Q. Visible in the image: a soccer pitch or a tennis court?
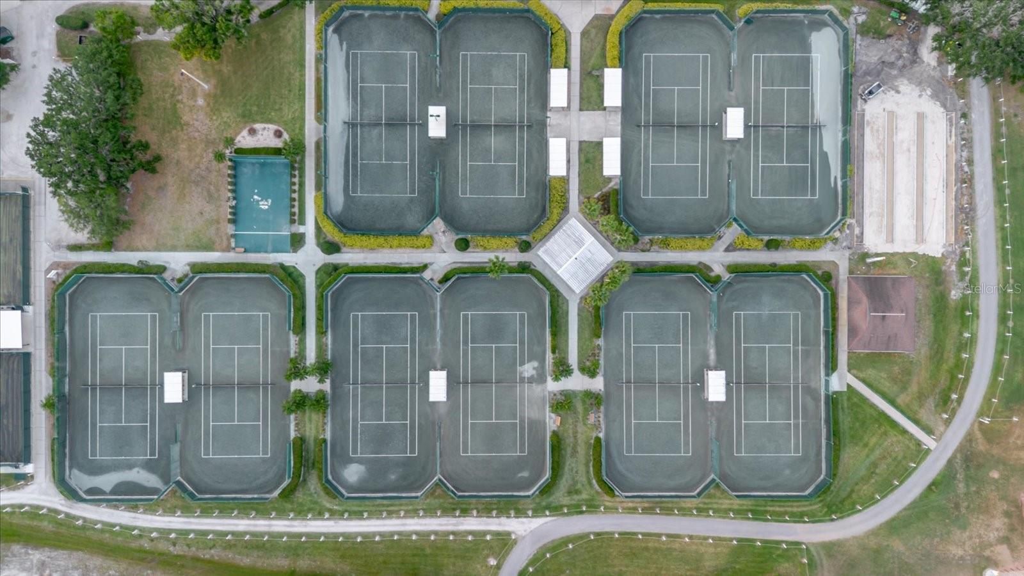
tennis court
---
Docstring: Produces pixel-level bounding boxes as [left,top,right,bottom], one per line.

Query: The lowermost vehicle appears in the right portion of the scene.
[858,80,886,102]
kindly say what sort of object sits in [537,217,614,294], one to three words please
building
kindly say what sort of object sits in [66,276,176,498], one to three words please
tennis court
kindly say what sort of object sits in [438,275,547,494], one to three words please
tennis court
